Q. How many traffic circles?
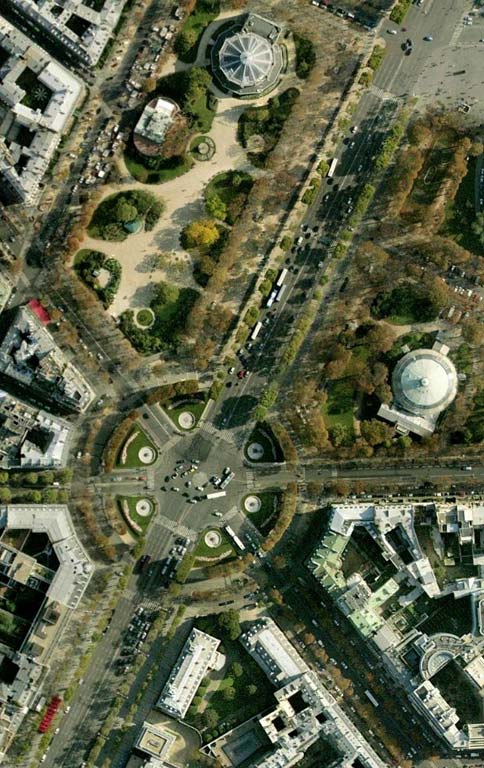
1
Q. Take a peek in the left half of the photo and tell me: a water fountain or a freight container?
water fountain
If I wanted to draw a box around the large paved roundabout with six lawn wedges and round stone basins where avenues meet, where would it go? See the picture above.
[104,384,297,578]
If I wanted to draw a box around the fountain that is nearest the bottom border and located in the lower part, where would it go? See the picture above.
[203,530,221,548]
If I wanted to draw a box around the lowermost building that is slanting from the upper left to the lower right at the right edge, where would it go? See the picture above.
[414,680,469,750]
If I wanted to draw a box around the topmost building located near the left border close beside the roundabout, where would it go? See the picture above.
[0,298,96,412]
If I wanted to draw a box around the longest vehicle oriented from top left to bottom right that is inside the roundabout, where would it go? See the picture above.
[226,525,244,550]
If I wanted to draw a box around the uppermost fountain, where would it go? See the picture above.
[177,411,195,429]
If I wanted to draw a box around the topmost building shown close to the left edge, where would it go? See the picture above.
[7,0,129,68]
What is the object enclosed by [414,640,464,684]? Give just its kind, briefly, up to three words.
building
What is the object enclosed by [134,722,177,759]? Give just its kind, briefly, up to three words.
house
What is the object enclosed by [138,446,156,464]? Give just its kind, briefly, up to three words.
fountain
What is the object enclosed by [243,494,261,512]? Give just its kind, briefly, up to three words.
fountain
